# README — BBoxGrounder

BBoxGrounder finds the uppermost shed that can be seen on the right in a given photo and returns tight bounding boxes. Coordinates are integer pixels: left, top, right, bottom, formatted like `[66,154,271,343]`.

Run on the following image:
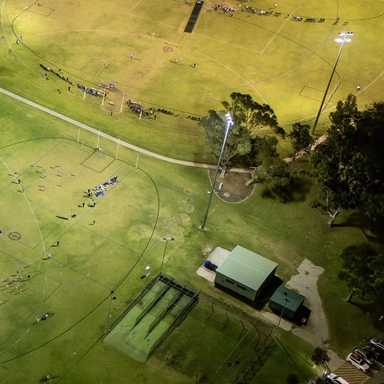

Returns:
[214,245,277,301]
